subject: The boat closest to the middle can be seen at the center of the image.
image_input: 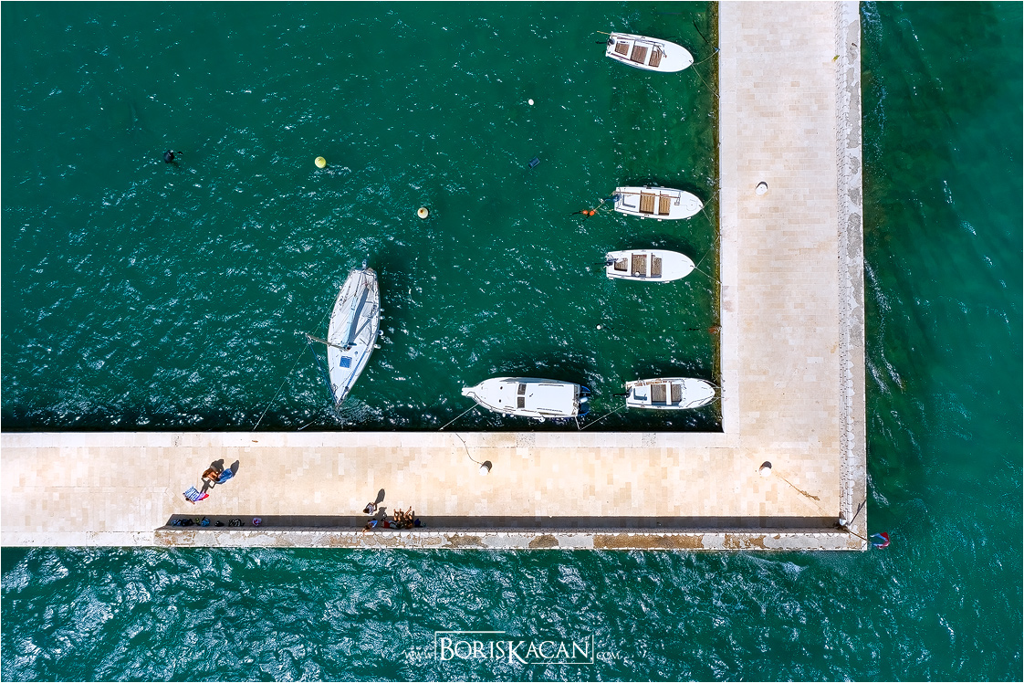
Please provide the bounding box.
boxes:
[461,377,594,425]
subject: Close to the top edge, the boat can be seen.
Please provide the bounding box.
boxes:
[594,29,693,73]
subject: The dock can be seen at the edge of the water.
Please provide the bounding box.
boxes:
[0,0,840,547]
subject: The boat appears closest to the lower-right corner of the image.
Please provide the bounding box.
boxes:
[610,376,720,410]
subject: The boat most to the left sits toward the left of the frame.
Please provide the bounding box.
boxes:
[302,261,381,407]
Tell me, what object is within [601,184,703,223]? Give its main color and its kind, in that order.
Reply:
white boat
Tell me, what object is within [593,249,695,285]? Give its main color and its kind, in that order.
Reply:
white boat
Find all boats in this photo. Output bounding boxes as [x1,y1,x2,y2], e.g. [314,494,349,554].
[302,261,381,407]
[601,184,703,223]
[593,249,695,285]
[461,377,594,425]
[610,376,720,410]
[594,29,693,73]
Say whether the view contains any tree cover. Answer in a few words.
No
